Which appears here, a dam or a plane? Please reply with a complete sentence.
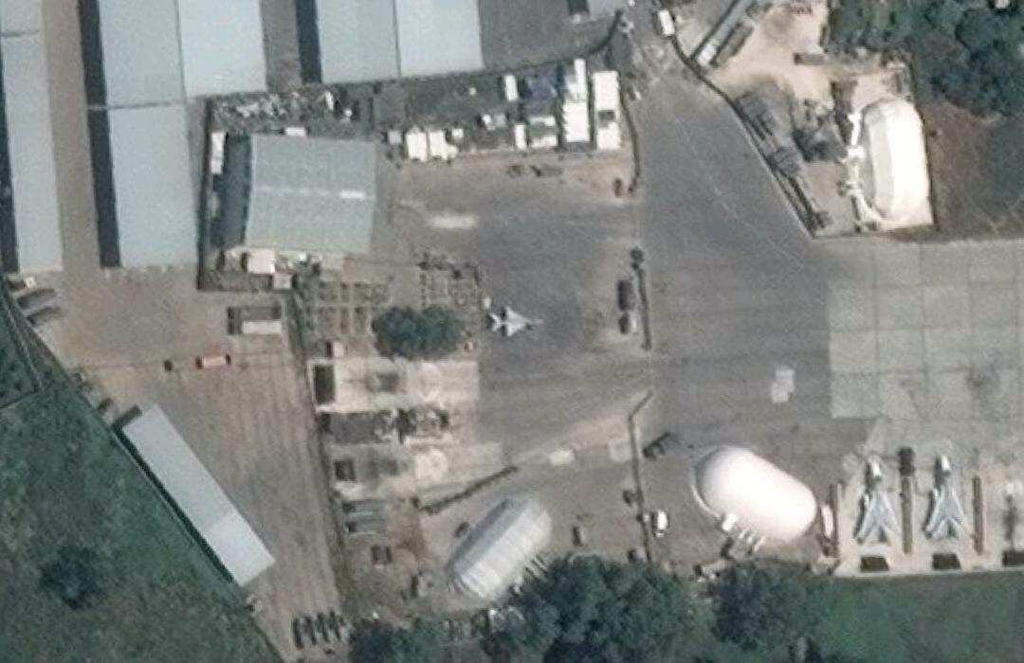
The image shows a plane.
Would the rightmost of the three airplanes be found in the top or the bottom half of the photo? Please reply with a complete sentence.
The bottom half of the photo is where the rightmost of the three airplanes is.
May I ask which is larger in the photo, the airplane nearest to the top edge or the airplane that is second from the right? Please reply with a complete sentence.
Of the two, the airplane that is second from the right is bigger, while the airplane nearest to the top edge is smaller.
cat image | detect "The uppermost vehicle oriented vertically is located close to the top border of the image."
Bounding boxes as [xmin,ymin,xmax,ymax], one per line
[659,8,674,36]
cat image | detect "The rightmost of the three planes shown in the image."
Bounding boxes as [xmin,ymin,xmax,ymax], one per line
[928,454,970,542]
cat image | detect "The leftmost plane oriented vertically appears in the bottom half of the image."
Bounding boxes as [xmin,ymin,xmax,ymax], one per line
[862,457,903,544]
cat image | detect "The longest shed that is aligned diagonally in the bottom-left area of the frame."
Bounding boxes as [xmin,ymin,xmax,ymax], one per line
[122,404,274,584]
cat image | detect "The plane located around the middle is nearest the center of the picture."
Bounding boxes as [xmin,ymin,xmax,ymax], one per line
[489,309,546,336]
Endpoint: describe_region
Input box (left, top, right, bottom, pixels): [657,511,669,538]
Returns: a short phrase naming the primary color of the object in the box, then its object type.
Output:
white vehicle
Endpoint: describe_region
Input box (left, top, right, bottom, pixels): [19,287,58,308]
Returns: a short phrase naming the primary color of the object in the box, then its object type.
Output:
gray truck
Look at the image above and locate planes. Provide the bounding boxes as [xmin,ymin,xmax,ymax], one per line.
[928,454,970,542]
[489,309,546,336]
[862,457,903,544]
